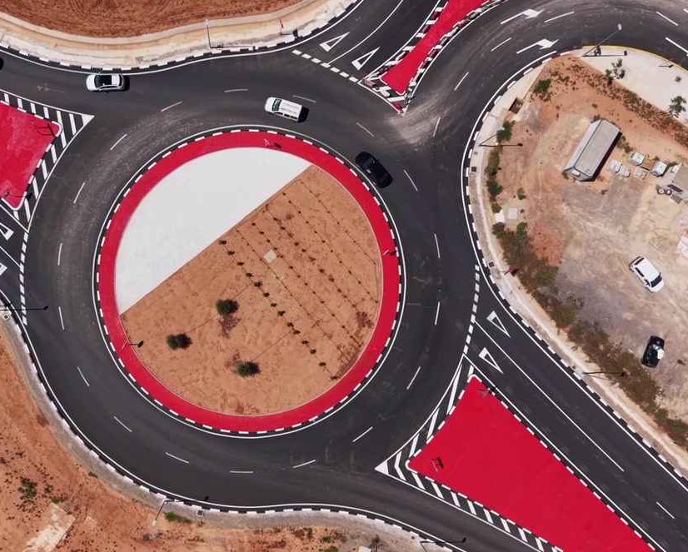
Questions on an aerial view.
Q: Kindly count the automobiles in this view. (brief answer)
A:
5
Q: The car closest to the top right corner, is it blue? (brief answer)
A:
No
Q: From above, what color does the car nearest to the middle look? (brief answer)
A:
black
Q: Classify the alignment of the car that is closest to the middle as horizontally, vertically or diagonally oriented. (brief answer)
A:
diagonally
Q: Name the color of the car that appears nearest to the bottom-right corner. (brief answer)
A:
black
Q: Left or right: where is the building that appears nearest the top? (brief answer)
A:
right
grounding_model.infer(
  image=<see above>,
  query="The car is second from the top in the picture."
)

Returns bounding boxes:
[264,98,305,123]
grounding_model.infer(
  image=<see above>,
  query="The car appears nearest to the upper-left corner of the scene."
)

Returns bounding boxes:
[86,72,126,93]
